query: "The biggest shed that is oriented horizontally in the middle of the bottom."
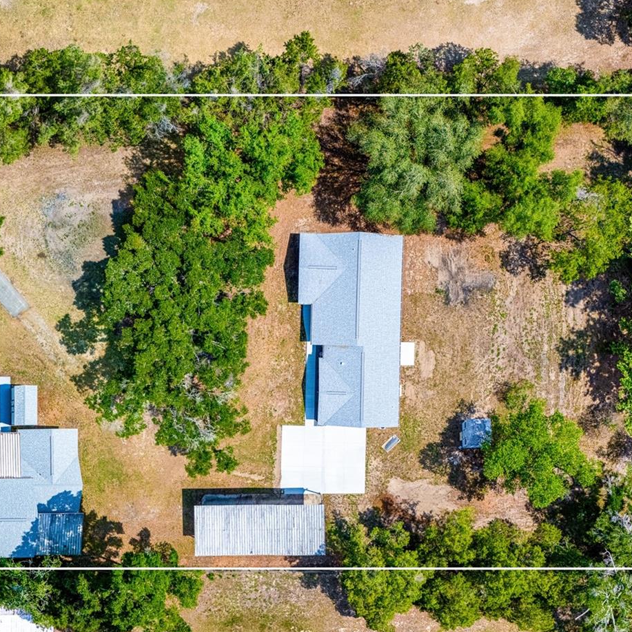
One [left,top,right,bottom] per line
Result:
[195,502,324,556]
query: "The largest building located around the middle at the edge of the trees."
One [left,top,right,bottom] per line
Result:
[298,233,402,429]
